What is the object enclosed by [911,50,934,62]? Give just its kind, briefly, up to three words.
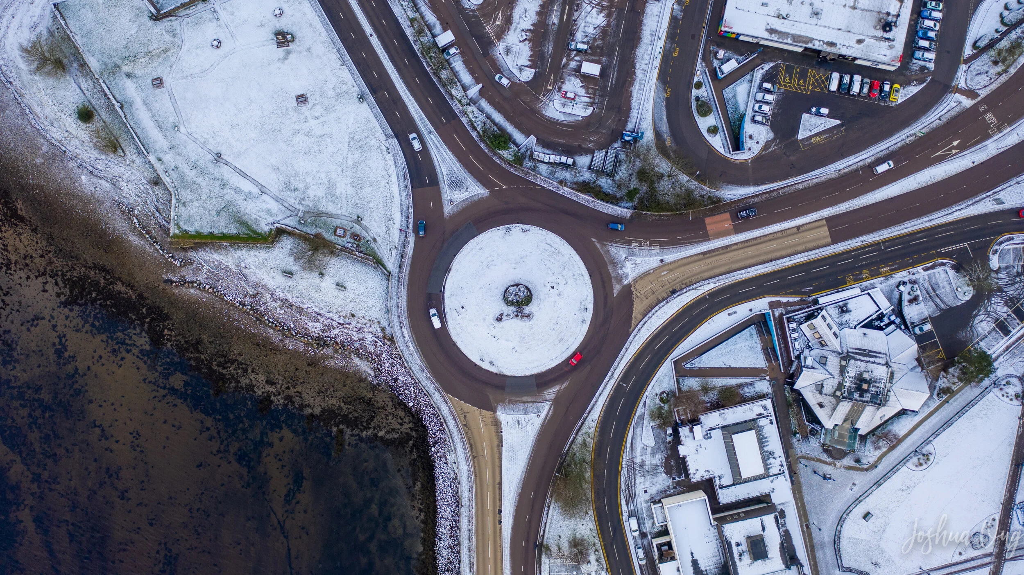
vehicle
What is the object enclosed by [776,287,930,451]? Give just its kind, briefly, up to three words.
building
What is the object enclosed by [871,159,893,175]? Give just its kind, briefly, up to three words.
vehicle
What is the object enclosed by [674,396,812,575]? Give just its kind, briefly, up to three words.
building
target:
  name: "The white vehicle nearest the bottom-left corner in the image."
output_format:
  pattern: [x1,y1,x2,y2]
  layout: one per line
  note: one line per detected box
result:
[429,307,442,329]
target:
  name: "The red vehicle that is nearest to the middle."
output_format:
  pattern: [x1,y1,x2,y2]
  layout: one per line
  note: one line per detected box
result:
[570,351,583,366]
